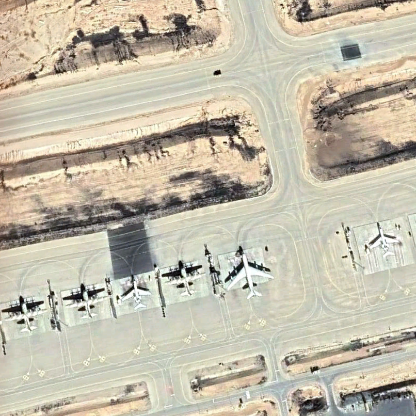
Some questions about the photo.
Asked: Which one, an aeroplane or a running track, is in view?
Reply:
aeroplane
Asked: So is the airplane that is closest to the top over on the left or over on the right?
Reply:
right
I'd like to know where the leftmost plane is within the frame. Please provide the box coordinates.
[5,303,48,333]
